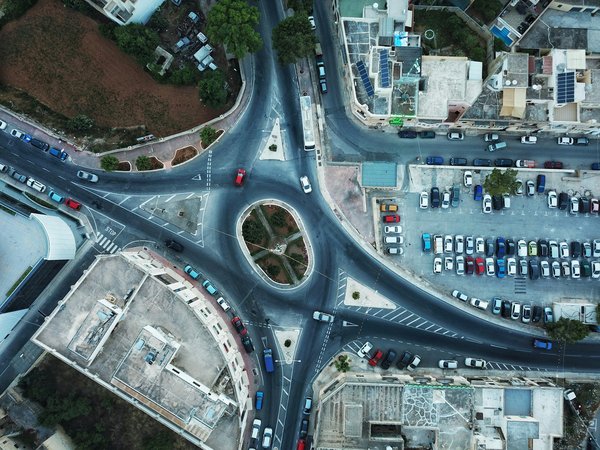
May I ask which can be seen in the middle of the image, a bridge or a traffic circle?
traffic circle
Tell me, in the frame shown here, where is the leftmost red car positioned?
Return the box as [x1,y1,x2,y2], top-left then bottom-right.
[64,197,83,210]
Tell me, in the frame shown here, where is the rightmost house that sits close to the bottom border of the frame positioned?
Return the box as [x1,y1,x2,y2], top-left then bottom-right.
[467,374,564,450]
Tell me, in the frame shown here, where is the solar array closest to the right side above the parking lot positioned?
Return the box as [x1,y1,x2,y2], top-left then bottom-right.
[557,73,574,103]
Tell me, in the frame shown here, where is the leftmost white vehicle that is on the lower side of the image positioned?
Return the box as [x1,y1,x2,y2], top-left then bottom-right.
[216,295,232,313]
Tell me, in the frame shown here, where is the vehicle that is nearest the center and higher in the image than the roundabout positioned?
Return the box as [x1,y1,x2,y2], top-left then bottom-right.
[299,175,312,194]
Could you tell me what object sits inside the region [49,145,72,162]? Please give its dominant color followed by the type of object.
blue vehicle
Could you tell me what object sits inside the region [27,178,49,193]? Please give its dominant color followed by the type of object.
white vehicle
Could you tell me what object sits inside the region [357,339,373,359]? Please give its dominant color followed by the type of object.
white car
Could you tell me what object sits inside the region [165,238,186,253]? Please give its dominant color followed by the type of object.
black car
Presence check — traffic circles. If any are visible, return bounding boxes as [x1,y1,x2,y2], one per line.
[237,199,315,291]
